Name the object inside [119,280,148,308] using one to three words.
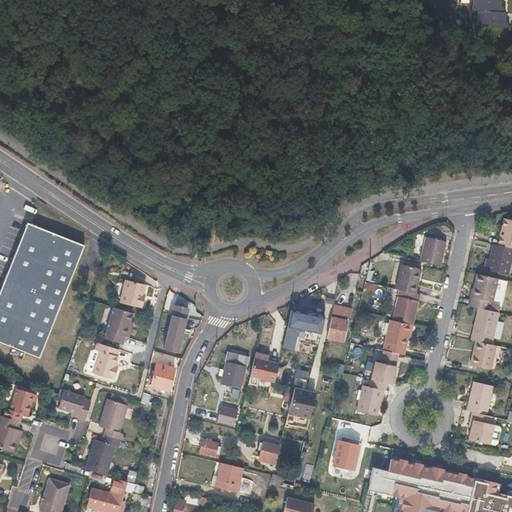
house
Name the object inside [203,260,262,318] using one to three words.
roundabout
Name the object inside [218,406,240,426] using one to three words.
house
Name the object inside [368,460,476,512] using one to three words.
building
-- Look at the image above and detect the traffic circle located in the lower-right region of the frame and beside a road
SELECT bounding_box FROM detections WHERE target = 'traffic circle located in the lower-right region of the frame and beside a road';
[390,382,454,448]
